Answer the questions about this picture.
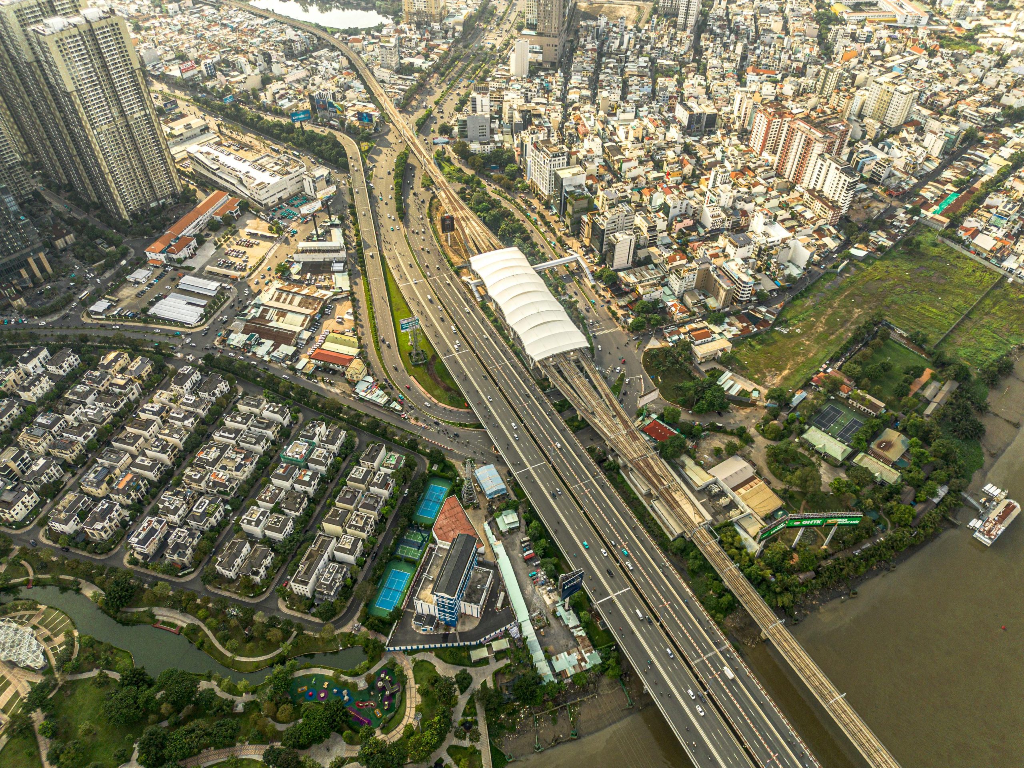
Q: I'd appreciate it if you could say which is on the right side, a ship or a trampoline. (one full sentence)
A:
The feature located on the right side is a ship.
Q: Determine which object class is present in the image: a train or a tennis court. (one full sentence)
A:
The image shows a tennis court.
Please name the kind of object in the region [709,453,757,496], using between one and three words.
building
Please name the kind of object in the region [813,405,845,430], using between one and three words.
tennis court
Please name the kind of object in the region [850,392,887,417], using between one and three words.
house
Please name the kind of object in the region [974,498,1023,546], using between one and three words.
ship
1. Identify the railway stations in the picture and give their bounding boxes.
[469,246,589,368]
